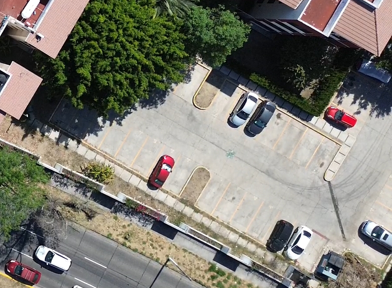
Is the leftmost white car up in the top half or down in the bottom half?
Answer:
bottom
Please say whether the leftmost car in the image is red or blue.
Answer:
red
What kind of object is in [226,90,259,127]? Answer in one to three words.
car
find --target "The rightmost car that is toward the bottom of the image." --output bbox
[355,219,392,250]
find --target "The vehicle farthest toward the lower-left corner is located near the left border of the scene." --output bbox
[4,259,42,286]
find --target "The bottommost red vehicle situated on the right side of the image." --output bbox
[322,105,356,128]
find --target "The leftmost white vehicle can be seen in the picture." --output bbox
[33,244,72,273]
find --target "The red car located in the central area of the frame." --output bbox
[146,154,174,190]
